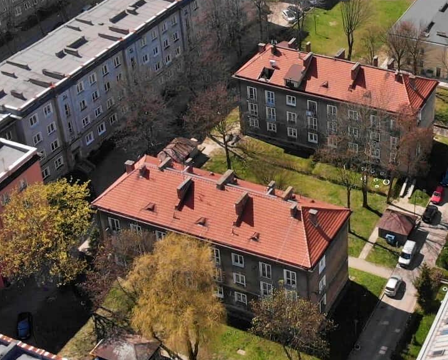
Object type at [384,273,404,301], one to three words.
car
